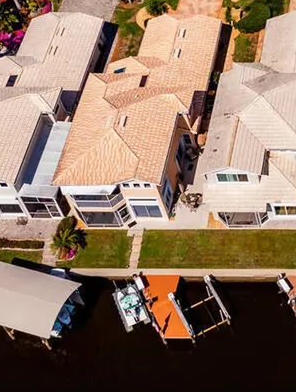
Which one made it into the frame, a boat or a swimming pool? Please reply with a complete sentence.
I can see a boat in this picture.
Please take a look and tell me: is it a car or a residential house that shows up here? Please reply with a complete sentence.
I can see a residential house in this picture.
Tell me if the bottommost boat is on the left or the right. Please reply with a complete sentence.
The bottommost boat sits on the left side.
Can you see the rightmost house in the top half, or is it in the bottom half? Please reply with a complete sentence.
It is in the top half that the rightmost house appears.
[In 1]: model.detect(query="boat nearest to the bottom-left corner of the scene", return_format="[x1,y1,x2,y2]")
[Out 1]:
[50,306,84,344]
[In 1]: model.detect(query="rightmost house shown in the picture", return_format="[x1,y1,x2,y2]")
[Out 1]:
[200,11,296,228]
